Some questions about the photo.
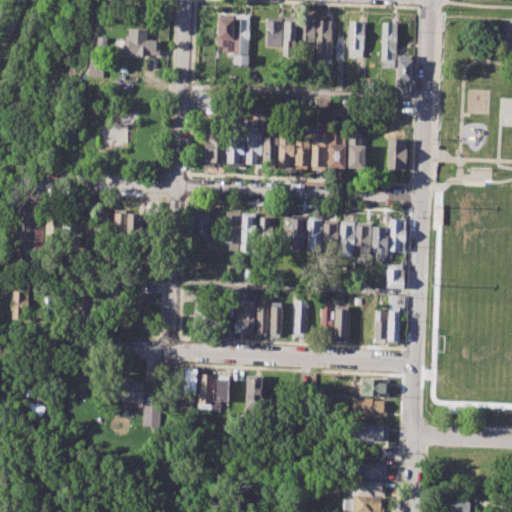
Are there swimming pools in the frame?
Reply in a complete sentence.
No, no swimming pool is visible in the view.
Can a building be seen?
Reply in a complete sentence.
Yes, a building appears in the view.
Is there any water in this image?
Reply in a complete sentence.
No, there's no water in this view.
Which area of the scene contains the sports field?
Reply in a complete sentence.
Look in the right portion of the view to spot the sports field.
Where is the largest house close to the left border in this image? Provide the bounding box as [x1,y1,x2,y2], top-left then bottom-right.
[12,290,29,320]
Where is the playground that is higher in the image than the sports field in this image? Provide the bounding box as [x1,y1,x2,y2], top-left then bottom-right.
[462,123,488,151]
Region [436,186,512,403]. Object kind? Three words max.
sports field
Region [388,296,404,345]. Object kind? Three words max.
house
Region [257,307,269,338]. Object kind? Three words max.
house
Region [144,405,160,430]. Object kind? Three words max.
building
